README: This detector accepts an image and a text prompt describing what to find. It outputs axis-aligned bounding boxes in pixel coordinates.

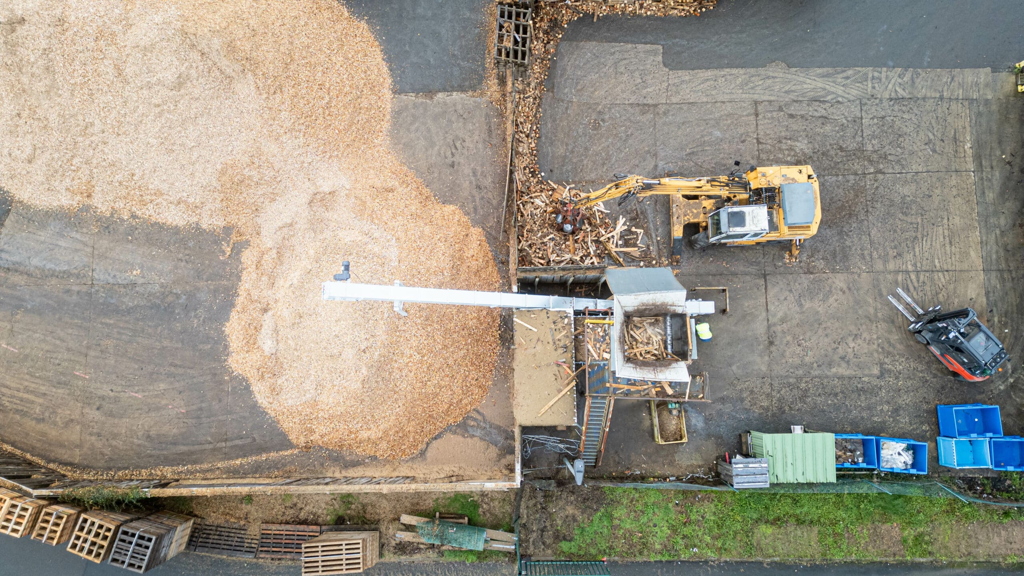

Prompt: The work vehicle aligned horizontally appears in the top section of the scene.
[552,160,821,269]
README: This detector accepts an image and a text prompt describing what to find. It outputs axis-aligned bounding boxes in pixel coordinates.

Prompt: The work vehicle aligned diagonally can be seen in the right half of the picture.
[888,288,1011,382]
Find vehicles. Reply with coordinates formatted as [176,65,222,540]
[552,160,821,269]
[888,288,1011,382]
